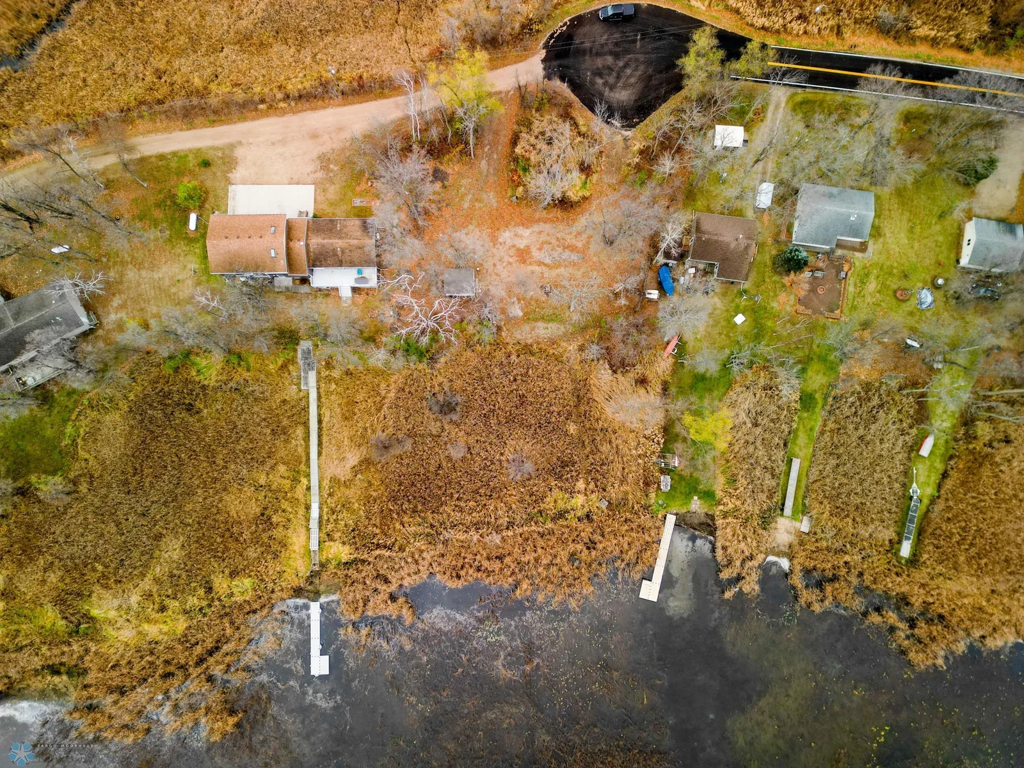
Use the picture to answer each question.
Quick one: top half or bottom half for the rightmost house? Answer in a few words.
top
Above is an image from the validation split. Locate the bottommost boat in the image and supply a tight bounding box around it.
[920,434,935,457]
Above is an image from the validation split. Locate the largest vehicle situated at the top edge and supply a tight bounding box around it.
[600,3,636,21]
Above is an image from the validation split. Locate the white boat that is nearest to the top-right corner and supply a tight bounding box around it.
[906,335,921,348]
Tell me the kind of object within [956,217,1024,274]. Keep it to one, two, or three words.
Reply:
house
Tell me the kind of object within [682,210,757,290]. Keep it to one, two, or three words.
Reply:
house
